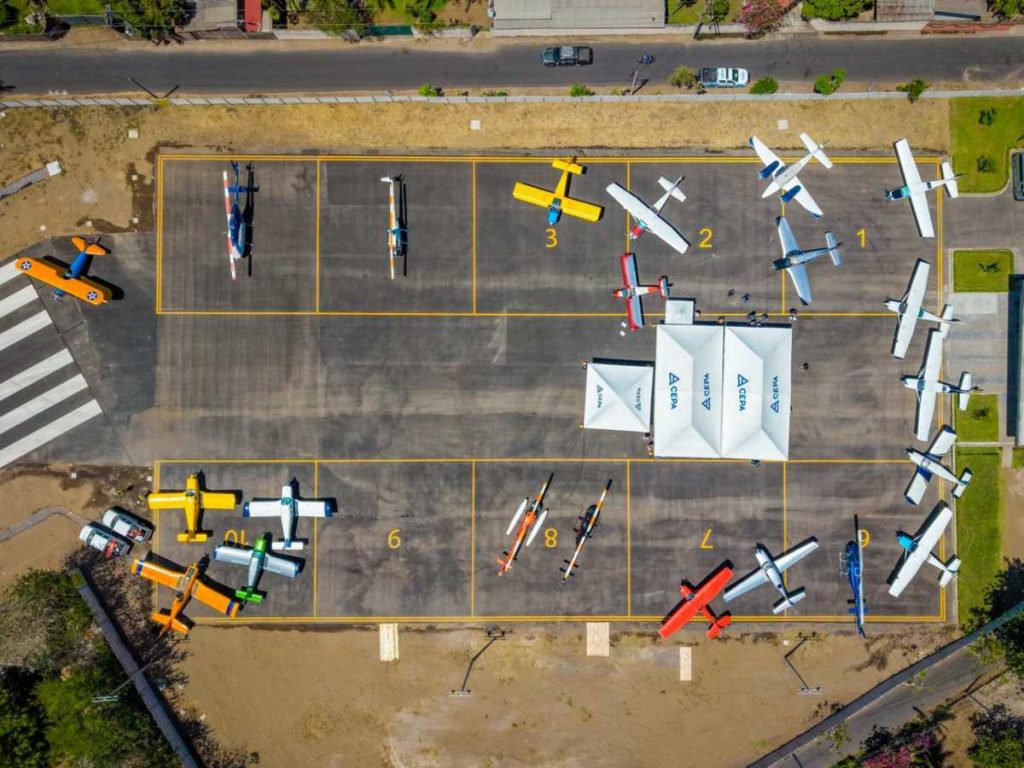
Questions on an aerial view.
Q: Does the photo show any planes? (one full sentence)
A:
Yes, there's a plane here.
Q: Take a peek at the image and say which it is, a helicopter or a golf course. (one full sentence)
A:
The image shows a helicopter.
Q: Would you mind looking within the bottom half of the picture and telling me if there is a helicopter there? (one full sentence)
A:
Yes, a helicopter shows up within the bottom half of the picture.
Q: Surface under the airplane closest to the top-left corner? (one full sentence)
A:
You can see the airplane closest to the top-left corner positioned on the apron.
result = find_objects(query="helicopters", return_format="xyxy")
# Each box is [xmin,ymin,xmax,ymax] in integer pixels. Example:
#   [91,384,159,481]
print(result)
[225,151,255,280]
[495,482,548,582]
[560,489,607,589]
[839,530,871,642]
[381,173,409,280]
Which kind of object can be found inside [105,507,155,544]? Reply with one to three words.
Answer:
truck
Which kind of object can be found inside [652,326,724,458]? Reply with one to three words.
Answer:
tent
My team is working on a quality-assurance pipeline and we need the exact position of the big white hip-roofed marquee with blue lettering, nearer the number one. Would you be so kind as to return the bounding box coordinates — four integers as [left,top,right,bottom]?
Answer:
[721,326,792,460]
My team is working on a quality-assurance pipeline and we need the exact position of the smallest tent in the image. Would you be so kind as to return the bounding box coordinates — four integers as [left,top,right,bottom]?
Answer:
[662,300,694,326]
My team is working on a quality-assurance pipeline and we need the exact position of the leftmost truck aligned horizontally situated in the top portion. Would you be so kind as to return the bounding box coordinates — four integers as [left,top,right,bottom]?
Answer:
[541,44,593,69]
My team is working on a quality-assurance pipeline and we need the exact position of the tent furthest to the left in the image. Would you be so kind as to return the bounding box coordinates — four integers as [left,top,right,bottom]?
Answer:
[584,364,654,432]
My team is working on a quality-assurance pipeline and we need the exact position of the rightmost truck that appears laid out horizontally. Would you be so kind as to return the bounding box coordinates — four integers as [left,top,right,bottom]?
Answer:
[697,65,749,90]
